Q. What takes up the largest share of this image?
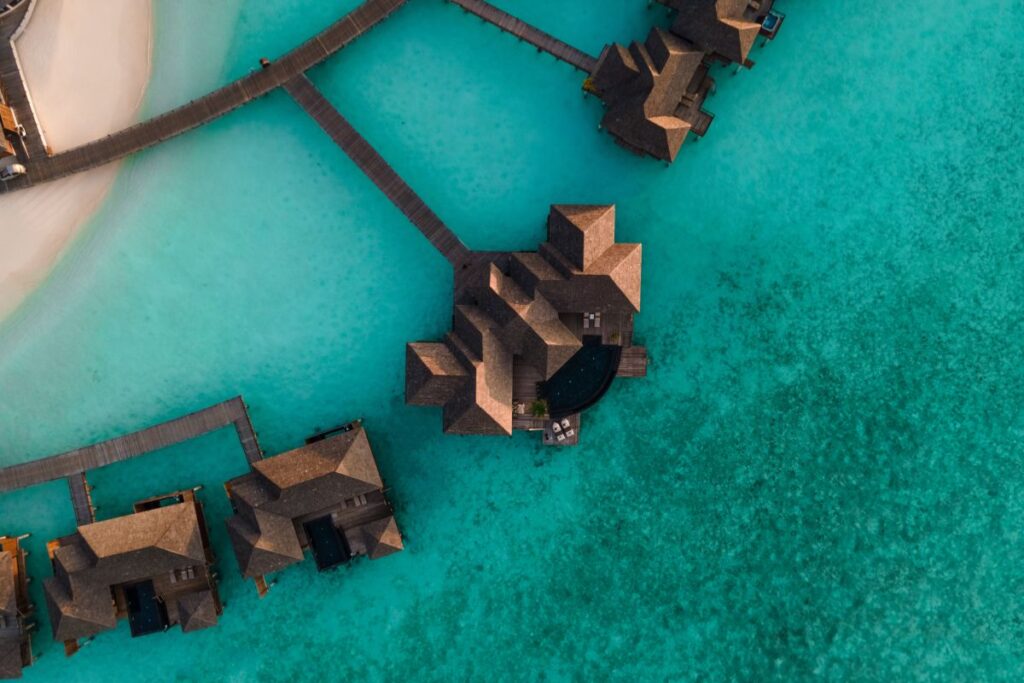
water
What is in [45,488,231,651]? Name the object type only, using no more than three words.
house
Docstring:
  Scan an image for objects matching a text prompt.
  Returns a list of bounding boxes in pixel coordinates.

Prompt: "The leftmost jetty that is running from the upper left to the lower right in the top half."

[282,69,471,265]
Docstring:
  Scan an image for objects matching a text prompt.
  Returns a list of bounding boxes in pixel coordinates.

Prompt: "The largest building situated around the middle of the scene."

[406,205,647,444]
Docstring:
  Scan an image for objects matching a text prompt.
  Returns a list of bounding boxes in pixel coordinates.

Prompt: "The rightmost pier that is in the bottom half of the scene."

[553,413,579,444]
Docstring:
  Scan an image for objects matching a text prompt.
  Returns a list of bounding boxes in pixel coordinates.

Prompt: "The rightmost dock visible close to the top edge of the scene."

[445,0,598,73]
